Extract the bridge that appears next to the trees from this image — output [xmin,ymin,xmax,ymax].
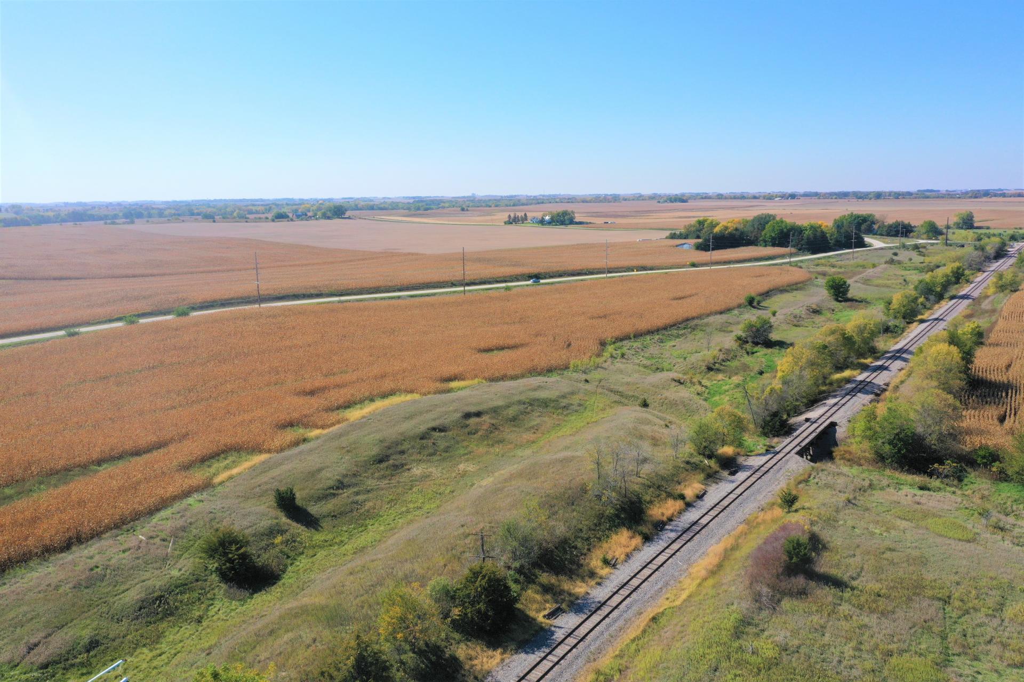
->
[763,415,852,467]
